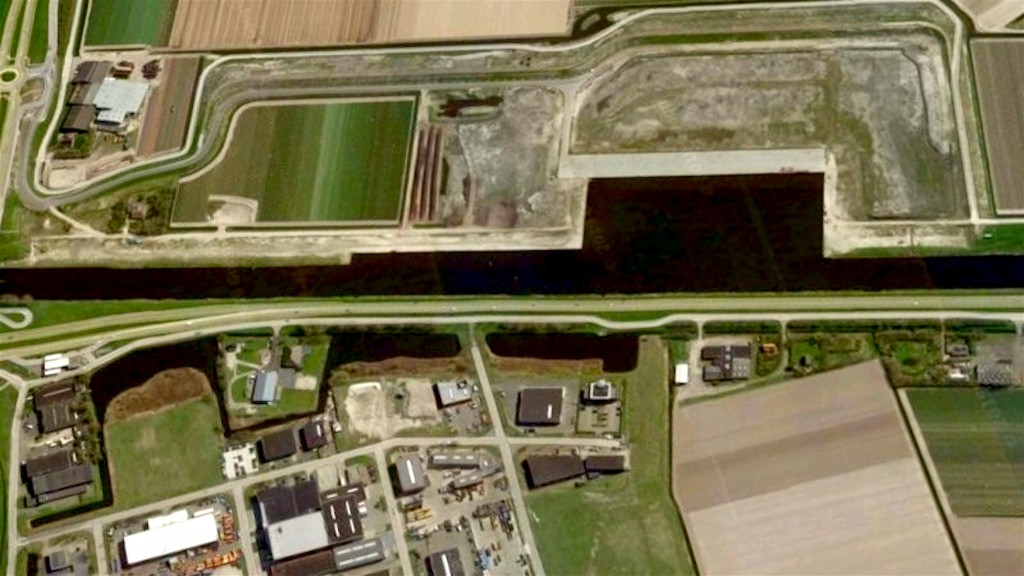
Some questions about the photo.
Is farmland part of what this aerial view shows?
Yes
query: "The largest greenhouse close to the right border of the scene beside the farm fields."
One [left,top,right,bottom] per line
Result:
[978,363,1013,386]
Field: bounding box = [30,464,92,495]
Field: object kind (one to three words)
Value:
building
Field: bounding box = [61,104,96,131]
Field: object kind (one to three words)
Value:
barn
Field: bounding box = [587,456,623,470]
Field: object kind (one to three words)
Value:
building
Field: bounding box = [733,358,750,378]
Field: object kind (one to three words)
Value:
barn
